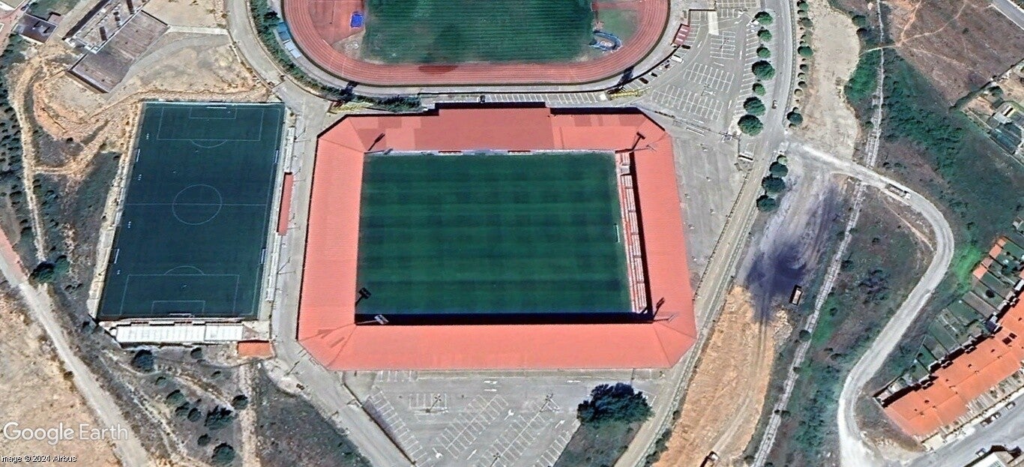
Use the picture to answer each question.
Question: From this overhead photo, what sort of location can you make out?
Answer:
sports ground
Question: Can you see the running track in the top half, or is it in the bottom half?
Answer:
top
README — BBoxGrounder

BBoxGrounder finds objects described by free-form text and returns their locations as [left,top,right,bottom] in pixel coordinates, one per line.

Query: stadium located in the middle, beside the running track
[294,108,696,370]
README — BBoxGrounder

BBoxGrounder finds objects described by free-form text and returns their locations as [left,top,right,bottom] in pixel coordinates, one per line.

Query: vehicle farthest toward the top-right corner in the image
[884,181,915,201]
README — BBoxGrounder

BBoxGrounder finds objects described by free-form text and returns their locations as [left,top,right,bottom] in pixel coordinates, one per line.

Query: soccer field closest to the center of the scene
[357,156,633,323]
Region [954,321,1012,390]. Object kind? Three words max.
house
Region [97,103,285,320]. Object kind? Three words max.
soccer field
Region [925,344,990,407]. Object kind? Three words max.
house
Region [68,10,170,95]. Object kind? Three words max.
building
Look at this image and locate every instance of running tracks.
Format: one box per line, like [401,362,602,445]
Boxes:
[284,0,668,85]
